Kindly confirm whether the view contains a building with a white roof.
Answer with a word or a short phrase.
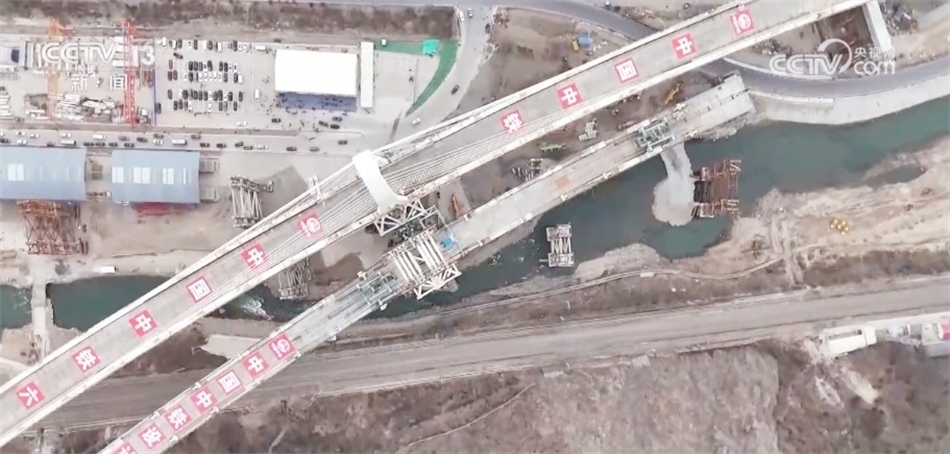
Yes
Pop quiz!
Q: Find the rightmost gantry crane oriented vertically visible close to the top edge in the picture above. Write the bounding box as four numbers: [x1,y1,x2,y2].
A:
[122,7,149,128]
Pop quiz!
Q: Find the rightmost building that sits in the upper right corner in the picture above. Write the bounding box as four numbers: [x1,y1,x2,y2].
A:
[864,0,894,54]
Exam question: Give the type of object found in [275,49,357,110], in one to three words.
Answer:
building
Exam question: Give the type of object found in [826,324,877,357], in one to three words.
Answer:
building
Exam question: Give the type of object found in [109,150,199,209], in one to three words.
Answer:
shed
